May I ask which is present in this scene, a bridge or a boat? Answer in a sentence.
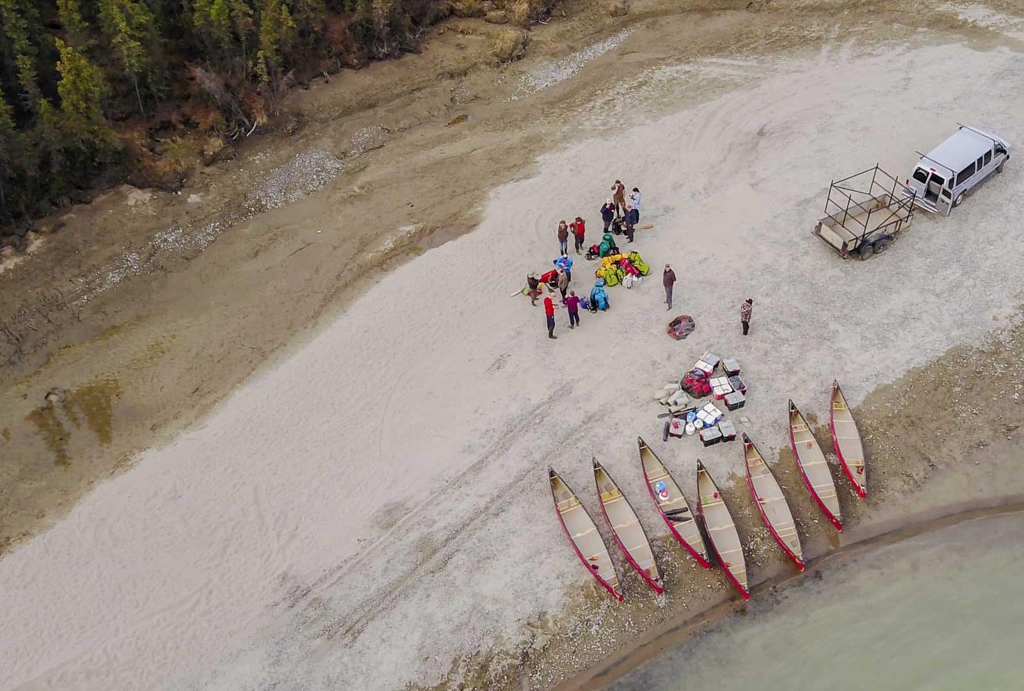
The image shows a boat.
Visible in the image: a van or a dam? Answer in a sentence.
I can see a van in this picture.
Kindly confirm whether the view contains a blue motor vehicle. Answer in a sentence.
No, the scene contains no blue motor vehicle.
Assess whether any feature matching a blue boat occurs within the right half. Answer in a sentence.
No, no blue boat appears within the right half.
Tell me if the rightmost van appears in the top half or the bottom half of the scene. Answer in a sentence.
It is in the top half that the rightmost van appears.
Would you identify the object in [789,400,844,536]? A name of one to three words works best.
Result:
boat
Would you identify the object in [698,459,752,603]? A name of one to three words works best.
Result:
boat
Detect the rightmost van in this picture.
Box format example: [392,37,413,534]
[898,121,1017,215]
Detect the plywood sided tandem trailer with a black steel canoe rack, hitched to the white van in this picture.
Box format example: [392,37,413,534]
[809,162,921,260]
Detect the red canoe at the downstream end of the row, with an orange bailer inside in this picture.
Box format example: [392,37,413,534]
[550,465,624,604]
